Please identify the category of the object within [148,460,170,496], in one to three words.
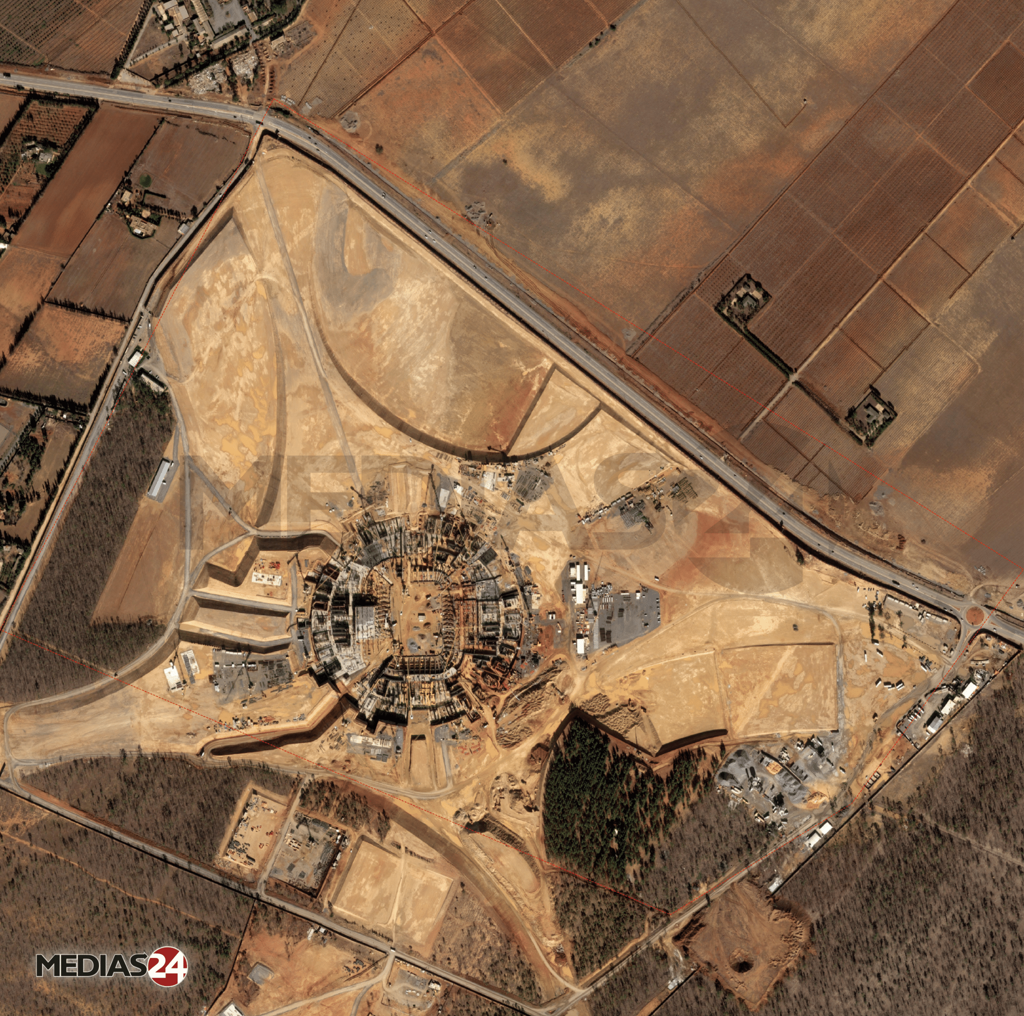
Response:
building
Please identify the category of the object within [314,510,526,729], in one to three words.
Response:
stadium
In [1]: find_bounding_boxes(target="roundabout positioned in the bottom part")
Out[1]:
[952,601,999,635]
